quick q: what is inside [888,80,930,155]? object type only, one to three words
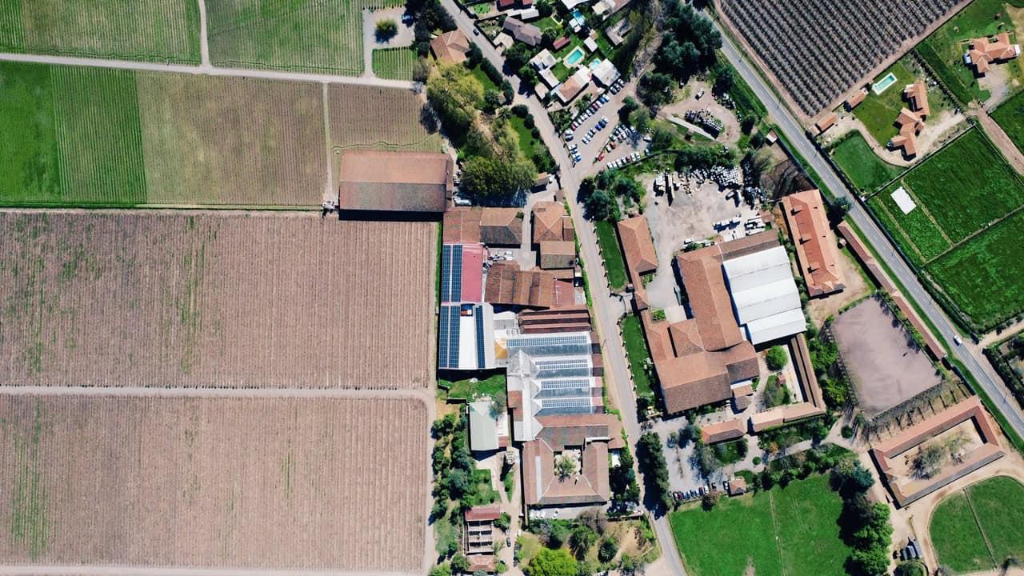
house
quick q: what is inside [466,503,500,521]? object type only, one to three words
shed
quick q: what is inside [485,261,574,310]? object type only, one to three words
building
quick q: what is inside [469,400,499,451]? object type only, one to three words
barn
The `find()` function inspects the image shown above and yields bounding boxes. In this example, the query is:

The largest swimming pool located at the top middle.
[563,47,585,67]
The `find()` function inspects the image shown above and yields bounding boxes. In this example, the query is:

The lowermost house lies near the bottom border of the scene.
[466,553,495,571]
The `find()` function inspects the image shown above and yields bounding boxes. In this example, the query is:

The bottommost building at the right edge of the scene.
[869,396,1006,507]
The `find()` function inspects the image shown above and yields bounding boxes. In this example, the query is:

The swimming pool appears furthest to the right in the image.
[871,73,897,95]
